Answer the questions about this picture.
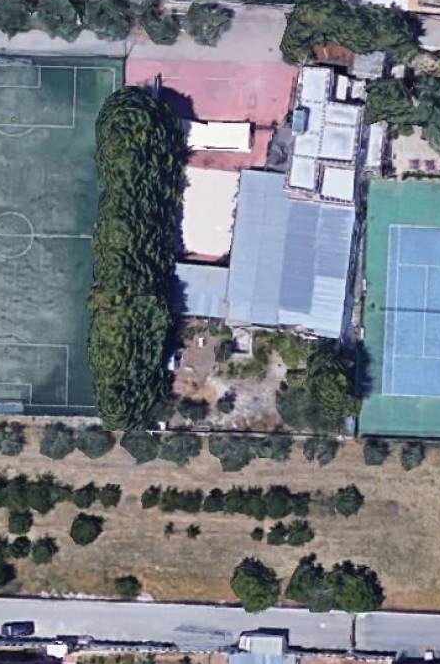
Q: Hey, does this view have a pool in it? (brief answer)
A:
No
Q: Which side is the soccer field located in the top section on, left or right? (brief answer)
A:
left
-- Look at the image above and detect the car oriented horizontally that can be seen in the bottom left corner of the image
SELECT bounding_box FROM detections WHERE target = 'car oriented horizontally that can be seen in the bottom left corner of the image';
[1,621,35,636]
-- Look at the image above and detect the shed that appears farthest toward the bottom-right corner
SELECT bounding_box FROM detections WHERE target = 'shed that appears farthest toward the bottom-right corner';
[245,632,287,655]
